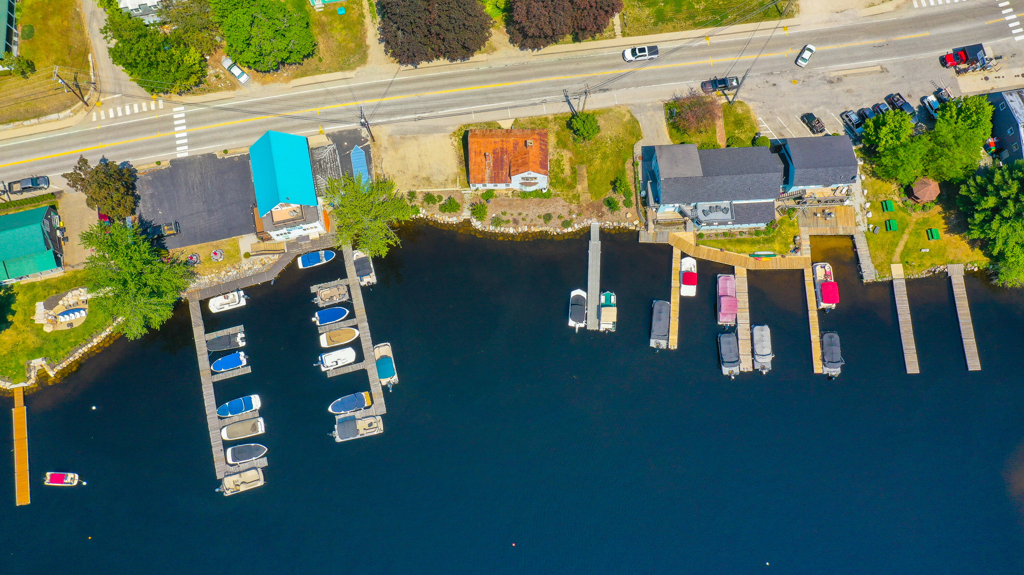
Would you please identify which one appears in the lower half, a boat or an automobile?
boat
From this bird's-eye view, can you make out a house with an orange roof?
Yes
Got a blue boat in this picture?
Yes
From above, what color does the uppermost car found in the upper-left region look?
white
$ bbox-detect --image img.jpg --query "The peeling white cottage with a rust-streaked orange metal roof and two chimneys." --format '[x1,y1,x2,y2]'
[468,129,549,195]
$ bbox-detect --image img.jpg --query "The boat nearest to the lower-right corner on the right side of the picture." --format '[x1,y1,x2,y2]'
[819,330,843,377]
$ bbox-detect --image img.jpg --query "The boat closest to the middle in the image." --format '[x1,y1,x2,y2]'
[569,288,587,334]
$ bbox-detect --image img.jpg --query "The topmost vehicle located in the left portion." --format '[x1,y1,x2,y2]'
[222,58,249,82]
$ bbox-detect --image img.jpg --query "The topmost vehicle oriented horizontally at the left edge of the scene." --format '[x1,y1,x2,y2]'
[4,175,51,195]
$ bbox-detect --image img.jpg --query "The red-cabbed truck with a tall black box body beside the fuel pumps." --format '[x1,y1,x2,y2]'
[940,38,994,69]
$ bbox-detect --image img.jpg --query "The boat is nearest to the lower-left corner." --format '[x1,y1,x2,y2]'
[39,472,81,487]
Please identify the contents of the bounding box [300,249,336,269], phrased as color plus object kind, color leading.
blue boat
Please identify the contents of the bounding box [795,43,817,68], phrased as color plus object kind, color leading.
white car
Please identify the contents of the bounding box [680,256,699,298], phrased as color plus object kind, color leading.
white boat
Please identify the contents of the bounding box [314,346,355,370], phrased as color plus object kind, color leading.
white boat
